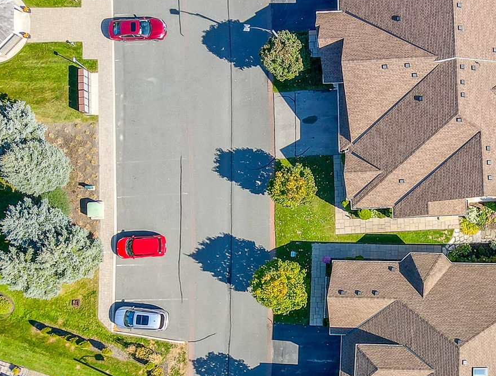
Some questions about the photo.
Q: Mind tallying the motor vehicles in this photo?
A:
3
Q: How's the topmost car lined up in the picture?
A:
horizontally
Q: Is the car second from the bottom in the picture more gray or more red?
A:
red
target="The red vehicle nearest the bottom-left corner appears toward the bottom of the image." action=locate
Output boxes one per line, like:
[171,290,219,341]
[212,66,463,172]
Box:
[118,232,169,259]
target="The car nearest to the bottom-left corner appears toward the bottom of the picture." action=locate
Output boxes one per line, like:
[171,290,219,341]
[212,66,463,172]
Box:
[116,302,172,332]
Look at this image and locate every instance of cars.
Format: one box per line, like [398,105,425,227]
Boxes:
[118,232,169,259]
[116,302,172,332]
[109,14,170,44]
